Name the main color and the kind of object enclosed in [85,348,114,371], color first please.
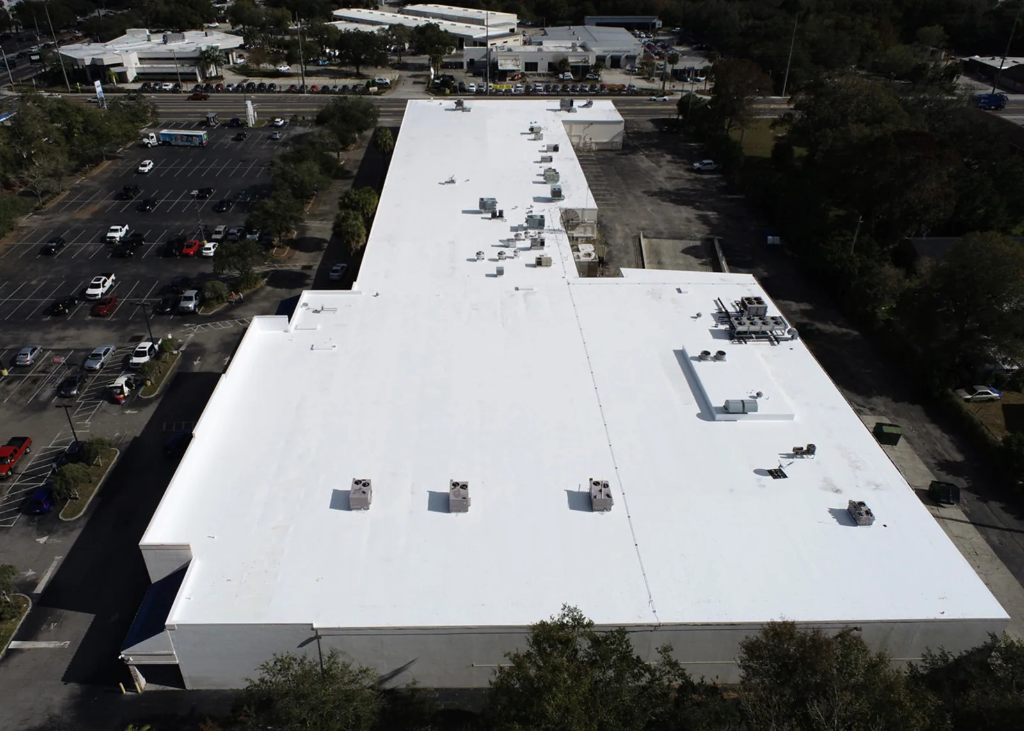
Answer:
gray car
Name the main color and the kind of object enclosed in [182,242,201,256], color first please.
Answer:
red car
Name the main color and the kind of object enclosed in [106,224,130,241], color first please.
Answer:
white vehicle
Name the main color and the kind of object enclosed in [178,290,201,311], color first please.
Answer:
gray car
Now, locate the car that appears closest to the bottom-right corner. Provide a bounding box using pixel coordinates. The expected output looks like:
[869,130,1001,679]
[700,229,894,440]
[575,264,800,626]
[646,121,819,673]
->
[959,387,1004,403]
